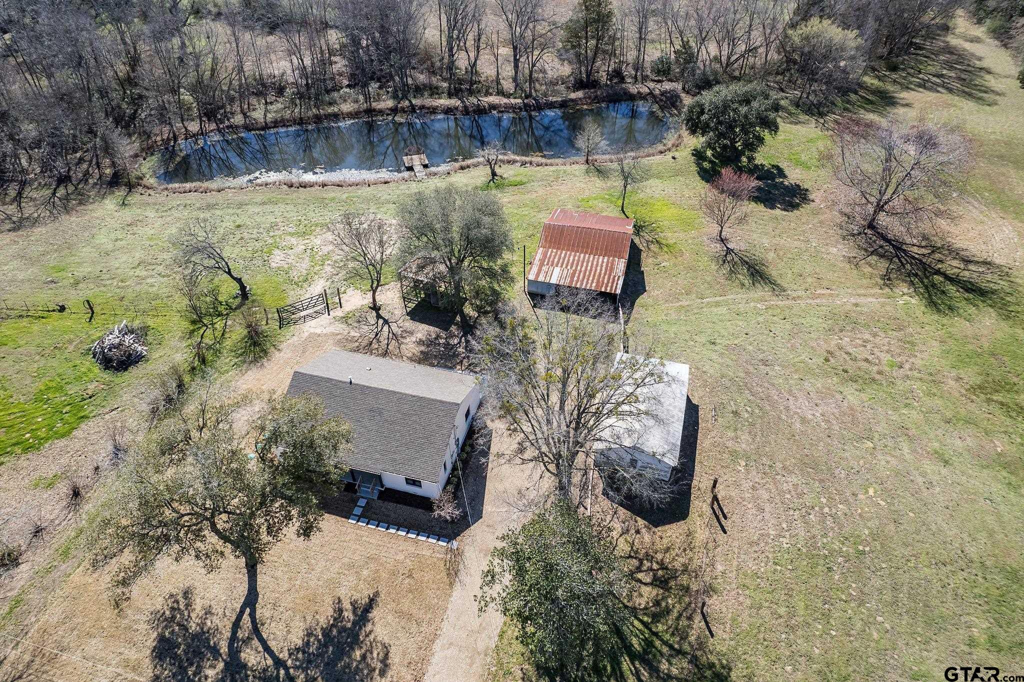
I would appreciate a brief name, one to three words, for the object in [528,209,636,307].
barn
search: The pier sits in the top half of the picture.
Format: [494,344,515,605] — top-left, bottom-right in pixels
[401,154,430,177]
